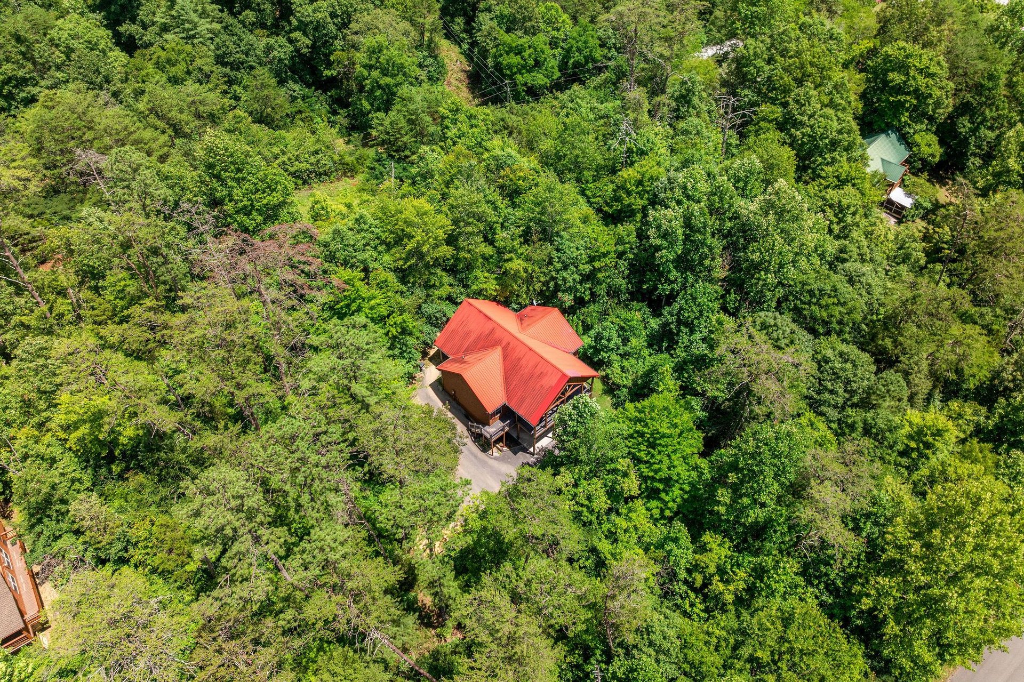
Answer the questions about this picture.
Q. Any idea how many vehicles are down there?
0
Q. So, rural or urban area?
rural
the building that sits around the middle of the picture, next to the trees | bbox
[433,298,600,455]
